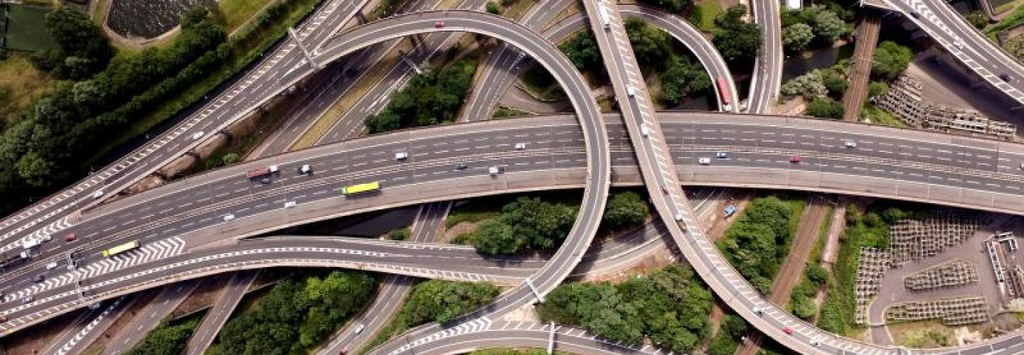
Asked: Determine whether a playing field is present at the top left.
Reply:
Yes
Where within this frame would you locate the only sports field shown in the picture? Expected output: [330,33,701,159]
[3,2,53,50]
